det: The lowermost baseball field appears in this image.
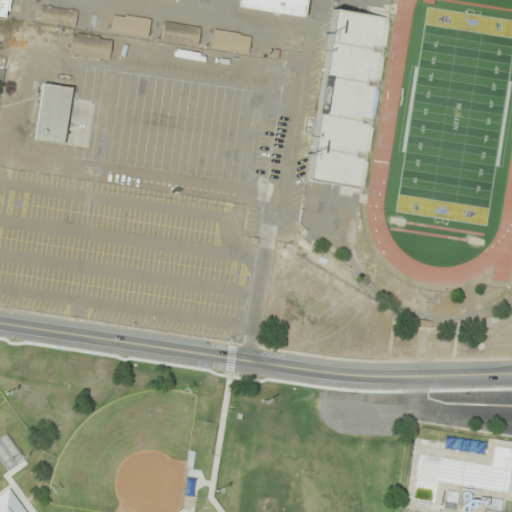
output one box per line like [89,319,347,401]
[51,390,196,512]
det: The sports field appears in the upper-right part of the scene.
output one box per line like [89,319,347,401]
[384,0,512,266]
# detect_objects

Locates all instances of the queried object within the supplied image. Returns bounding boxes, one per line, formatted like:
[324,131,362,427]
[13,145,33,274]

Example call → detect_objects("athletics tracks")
[367,0,512,291]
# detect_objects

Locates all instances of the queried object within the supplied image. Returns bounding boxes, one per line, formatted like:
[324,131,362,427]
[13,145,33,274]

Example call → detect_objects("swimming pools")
[414,446,512,506]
